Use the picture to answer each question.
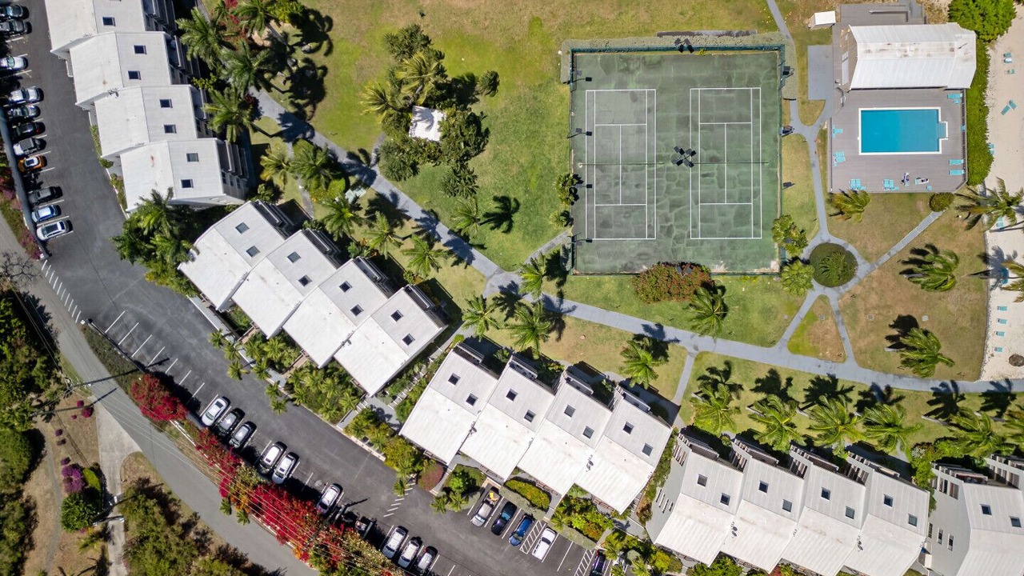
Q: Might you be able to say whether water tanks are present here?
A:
No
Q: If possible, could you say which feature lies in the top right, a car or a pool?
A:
pool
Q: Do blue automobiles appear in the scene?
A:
Yes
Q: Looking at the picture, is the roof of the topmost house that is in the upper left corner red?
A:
No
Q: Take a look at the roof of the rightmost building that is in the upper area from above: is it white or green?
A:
white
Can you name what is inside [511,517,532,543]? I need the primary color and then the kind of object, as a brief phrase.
blue car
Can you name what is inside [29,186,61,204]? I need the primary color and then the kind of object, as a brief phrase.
gray car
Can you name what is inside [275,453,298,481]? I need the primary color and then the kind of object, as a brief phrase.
white car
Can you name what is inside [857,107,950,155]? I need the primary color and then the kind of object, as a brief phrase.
blue swimming pool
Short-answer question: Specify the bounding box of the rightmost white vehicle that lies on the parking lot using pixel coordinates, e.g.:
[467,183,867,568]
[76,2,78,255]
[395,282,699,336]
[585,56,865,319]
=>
[531,528,556,559]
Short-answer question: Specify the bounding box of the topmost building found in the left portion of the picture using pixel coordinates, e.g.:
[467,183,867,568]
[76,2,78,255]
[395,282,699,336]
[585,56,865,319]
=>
[38,0,174,60]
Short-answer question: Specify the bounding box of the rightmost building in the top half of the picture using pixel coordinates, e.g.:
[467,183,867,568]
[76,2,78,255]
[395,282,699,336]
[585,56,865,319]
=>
[837,27,977,94]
